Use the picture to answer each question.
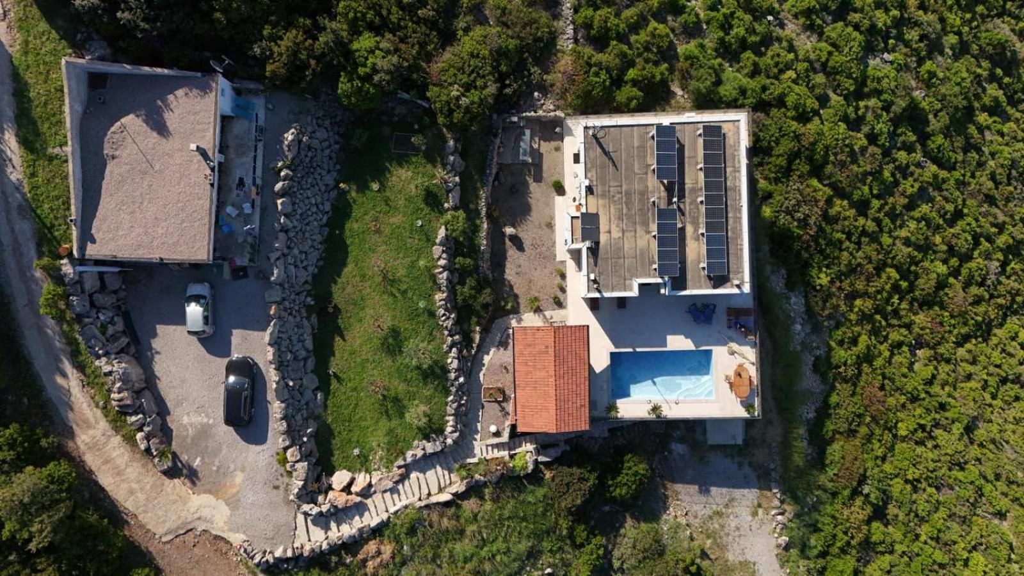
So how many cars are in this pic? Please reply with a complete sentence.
My tally gives 2 cars in this view.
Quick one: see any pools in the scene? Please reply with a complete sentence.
Yes, there's a pool here.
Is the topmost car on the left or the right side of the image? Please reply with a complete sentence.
It is on the left.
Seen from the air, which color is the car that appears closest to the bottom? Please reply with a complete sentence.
The car that appears closest to the bottom looks black in the image.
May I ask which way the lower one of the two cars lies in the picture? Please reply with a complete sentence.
The lower one of the two cars has been laid out from top to bottom relative to the frame.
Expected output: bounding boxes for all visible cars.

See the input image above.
[220,356,256,429]
[181,282,216,338]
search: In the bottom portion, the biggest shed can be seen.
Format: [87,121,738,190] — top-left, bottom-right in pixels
[512,325,592,434]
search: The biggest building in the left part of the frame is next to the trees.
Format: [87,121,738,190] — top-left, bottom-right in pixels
[63,60,242,264]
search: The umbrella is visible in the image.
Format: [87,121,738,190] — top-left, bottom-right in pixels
[719,331,755,364]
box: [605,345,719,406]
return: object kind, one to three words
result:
swimming pool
